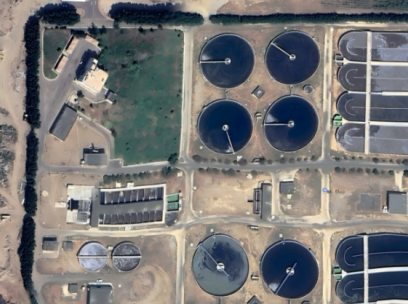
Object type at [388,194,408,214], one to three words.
building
